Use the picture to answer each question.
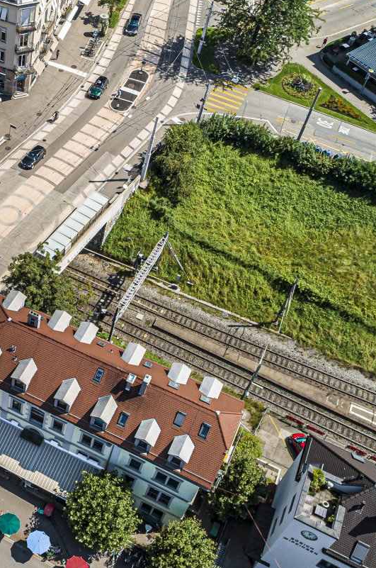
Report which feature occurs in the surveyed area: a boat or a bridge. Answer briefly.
bridge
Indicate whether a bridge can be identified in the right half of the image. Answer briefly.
No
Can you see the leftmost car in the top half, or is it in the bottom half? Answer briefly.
top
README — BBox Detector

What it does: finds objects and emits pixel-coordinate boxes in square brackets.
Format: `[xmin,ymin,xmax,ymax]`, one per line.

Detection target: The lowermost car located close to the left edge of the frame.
[19,144,49,169]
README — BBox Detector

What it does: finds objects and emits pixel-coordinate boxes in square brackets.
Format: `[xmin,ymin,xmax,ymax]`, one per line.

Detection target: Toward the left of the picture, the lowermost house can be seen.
[0,292,242,518]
